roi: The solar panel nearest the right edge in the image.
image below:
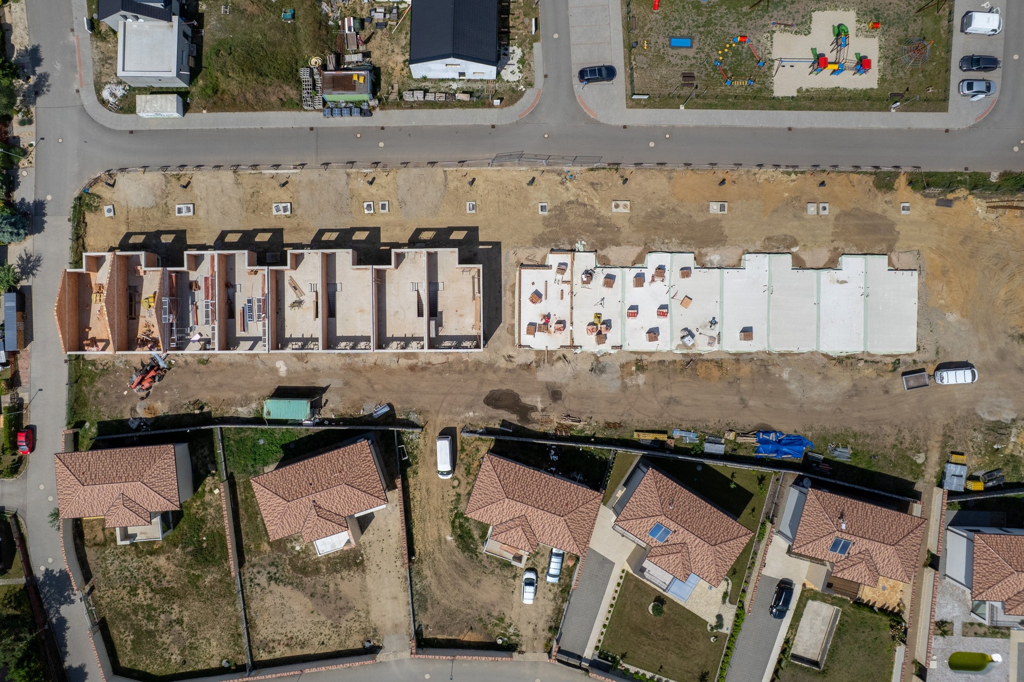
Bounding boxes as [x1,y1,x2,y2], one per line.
[829,537,852,556]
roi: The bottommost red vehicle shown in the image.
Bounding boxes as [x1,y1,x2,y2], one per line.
[16,426,36,456]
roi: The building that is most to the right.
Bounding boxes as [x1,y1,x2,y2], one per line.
[947,526,1024,627]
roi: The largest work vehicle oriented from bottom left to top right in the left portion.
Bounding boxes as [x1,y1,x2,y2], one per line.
[129,354,170,395]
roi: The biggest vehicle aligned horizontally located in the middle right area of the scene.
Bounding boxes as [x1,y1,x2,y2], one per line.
[930,364,975,383]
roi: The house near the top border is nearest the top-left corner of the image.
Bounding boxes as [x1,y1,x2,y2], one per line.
[98,0,190,86]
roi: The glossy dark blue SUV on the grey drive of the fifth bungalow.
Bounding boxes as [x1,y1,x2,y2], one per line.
[769,577,794,617]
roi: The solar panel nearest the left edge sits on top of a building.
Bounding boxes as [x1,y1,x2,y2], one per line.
[648,523,672,543]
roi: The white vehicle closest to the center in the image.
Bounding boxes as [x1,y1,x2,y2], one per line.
[435,434,455,479]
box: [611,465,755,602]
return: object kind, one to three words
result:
house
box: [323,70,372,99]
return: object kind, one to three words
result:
shed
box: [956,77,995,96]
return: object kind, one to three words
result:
car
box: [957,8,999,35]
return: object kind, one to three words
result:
vehicle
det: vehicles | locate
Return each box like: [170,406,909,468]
[956,54,996,72]
[769,577,794,617]
[129,354,170,395]
[16,426,36,456]
[930,364,975,383]
[957,8,999,35]
[435,434,455,479]
[956,77,995,96]
[545,545,563,581]
[578,64,616,84]
[521,567,538,604]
